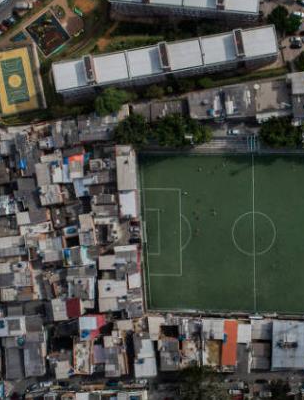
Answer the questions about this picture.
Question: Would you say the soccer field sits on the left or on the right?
right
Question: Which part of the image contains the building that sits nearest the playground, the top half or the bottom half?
top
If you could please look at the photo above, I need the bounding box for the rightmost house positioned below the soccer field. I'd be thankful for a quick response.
[273,319,304,371]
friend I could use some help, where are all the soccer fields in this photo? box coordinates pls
[139,150,304,316]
